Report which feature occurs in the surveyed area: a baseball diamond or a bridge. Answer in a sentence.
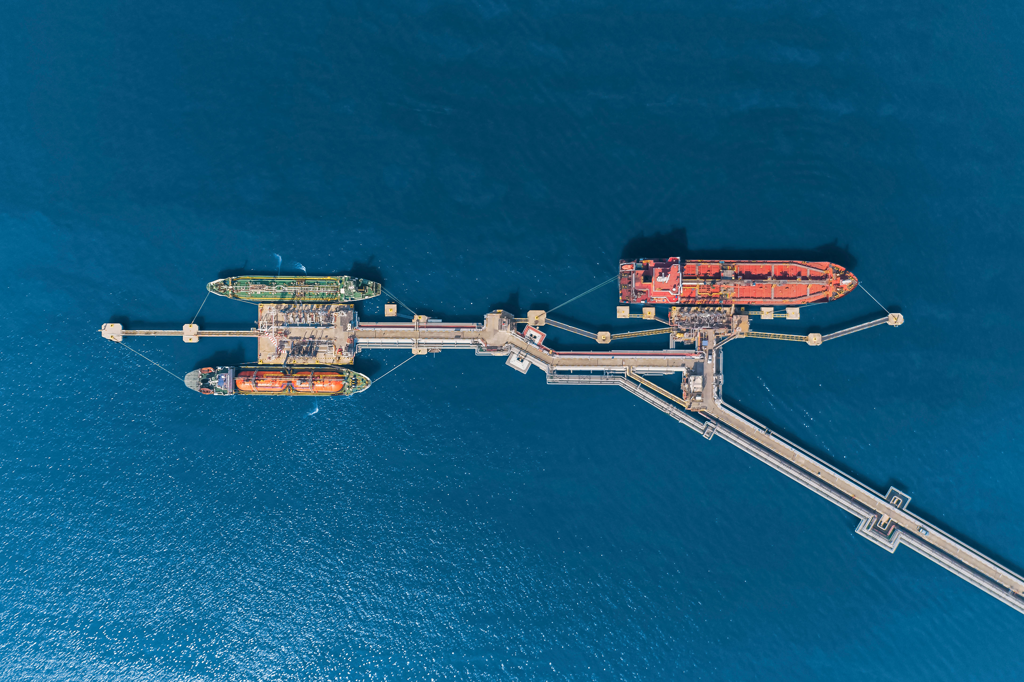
Visible in the photo is a bridge.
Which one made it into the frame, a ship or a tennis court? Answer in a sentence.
This aerial view contains a ship.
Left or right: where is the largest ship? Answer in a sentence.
It is on the right.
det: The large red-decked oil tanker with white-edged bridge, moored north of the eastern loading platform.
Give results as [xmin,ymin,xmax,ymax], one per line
[619,257,860,305]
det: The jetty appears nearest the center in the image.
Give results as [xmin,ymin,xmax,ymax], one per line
[481,310,512,346]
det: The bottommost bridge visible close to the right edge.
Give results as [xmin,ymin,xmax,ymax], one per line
[708,407,1024,595]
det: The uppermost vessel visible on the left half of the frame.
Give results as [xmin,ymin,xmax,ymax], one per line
[207,276,381,302]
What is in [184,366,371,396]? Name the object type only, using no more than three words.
ship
